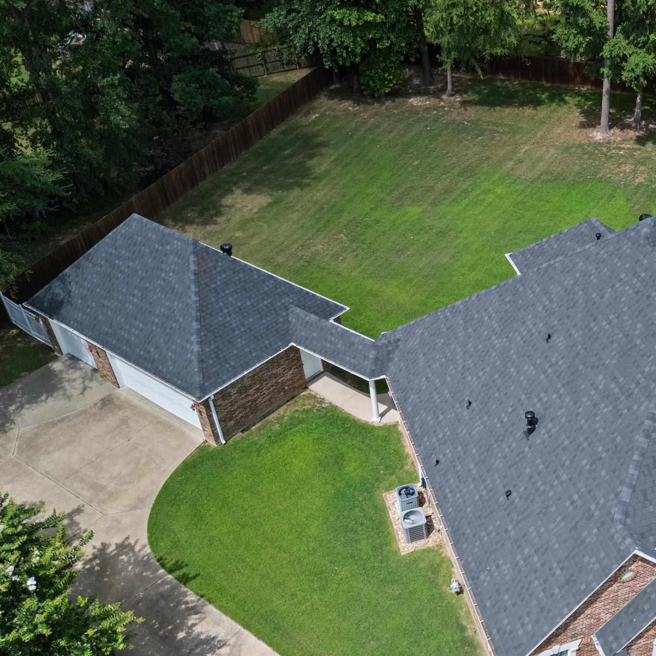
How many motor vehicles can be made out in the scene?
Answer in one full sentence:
The photo contains no motor vehicles.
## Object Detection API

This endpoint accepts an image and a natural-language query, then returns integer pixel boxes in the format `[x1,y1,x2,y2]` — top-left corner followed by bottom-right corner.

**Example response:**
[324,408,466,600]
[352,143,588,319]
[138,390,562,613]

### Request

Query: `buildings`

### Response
[23,214,351,446]
[370,211,656,656]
